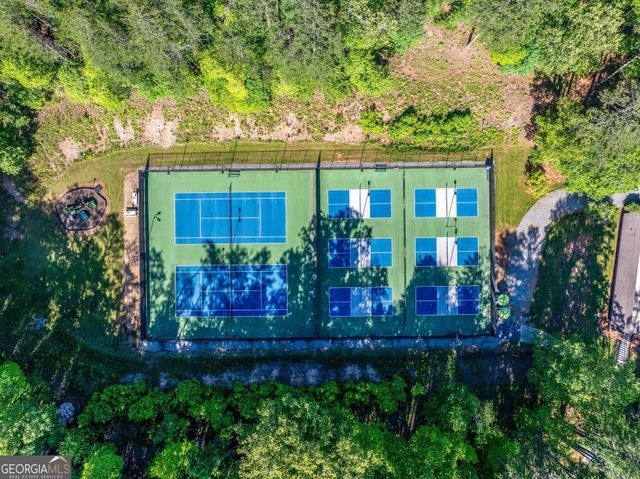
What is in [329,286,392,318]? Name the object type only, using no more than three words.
sports court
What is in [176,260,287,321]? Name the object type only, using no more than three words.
tennis court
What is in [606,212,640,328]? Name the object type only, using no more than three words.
building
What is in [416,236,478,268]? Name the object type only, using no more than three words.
sports court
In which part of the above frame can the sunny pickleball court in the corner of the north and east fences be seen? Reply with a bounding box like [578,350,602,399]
[415,186,478,218]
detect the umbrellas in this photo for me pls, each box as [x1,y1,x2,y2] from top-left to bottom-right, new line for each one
[498,306,510,318]
[496,294,509,306]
